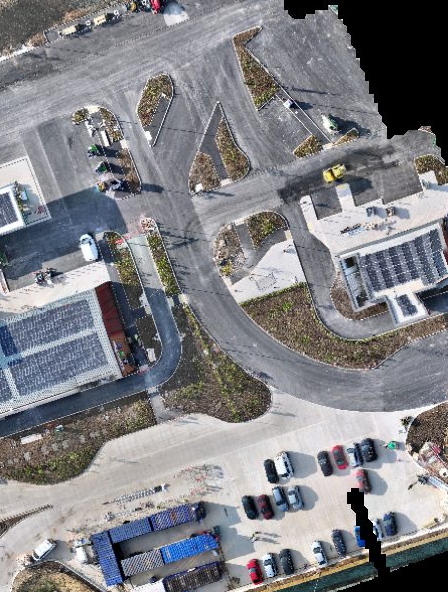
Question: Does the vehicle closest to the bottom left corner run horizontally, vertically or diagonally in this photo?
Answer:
diagonally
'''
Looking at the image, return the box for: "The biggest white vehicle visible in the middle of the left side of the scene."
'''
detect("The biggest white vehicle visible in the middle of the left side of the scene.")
[80,233,98,263]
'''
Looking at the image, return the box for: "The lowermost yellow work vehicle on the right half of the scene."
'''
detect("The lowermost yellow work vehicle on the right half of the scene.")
[322,165,348,183]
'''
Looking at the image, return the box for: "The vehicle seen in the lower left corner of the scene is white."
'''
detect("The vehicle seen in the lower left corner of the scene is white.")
[30,539,58,562]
